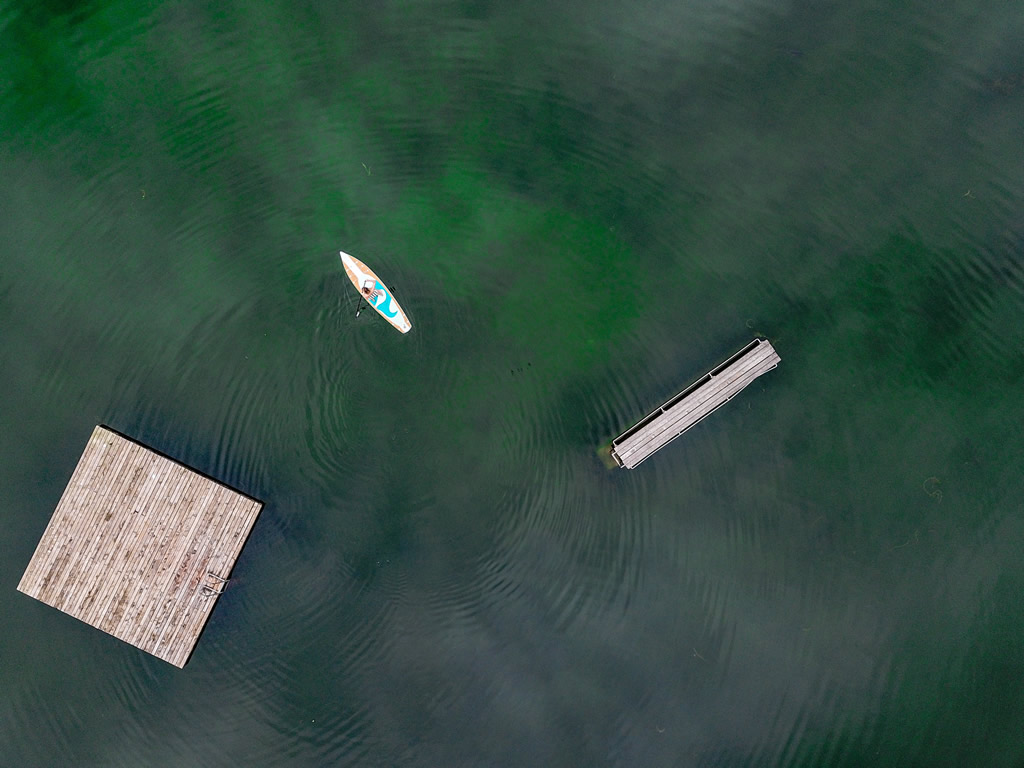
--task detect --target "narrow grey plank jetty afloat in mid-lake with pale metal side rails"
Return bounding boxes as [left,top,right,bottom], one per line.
[609,338,781,469]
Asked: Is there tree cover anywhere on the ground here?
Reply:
No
